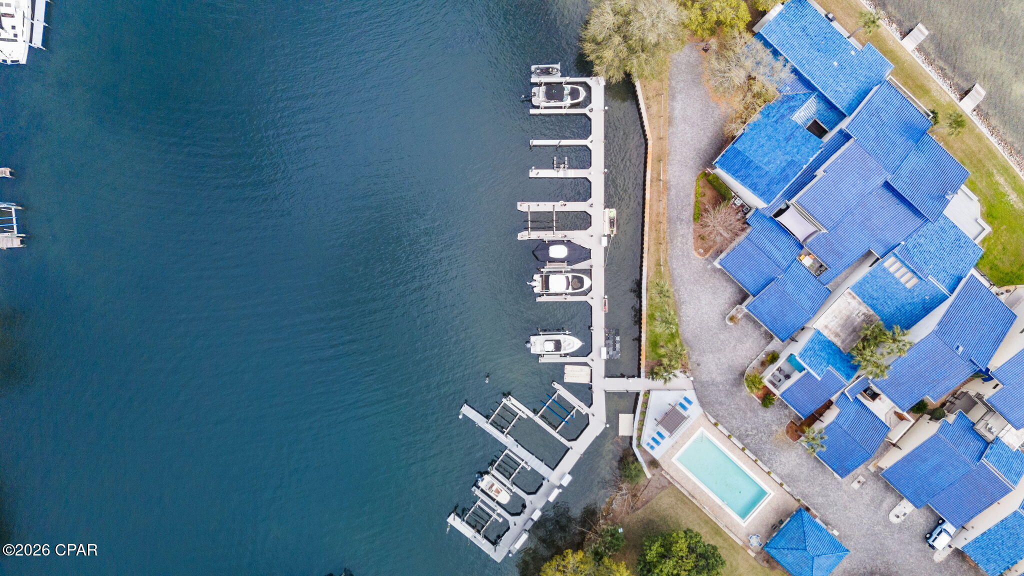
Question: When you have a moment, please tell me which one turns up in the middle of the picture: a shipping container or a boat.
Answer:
boat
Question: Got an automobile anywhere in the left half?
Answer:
No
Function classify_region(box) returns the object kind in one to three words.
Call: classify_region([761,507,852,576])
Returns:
building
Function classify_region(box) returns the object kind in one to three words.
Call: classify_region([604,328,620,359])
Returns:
pier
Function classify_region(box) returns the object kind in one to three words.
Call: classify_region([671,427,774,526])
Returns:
swimming pool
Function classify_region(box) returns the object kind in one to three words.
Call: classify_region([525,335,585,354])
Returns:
boat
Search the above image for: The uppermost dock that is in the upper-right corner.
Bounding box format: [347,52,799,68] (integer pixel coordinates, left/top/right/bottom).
[901,22,929,51]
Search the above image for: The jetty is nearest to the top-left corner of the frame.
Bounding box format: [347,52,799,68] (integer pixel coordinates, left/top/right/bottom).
[23,0,60,52]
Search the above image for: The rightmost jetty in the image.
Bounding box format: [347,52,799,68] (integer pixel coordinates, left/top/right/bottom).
[959,83,987,112]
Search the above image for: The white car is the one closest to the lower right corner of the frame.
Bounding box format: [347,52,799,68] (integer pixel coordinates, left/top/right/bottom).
[924,519,952,550]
